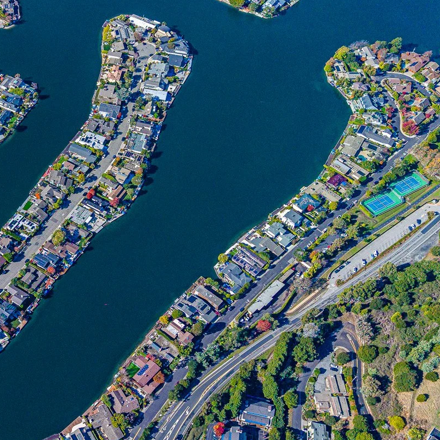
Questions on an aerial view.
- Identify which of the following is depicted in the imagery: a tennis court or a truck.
tennis court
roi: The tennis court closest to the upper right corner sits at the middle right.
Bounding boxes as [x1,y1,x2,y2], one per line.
[387,170,428,196]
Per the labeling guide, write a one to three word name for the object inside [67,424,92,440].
house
